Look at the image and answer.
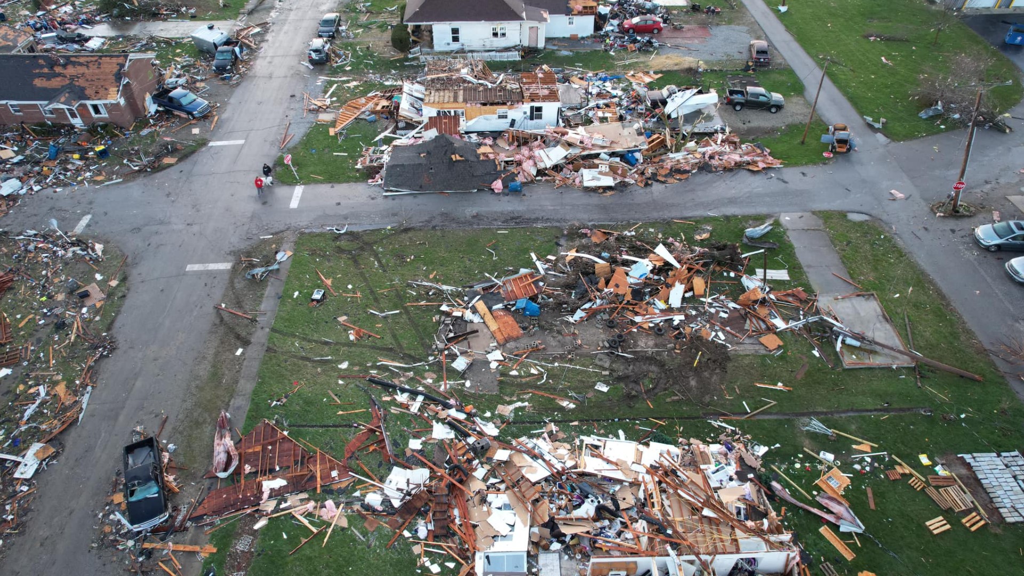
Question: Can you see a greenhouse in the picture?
No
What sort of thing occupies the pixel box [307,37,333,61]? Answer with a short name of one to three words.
car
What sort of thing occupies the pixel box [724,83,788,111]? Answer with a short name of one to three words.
truck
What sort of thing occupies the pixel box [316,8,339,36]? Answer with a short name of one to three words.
car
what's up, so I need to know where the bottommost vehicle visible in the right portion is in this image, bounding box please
[1004,259,1024,285]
